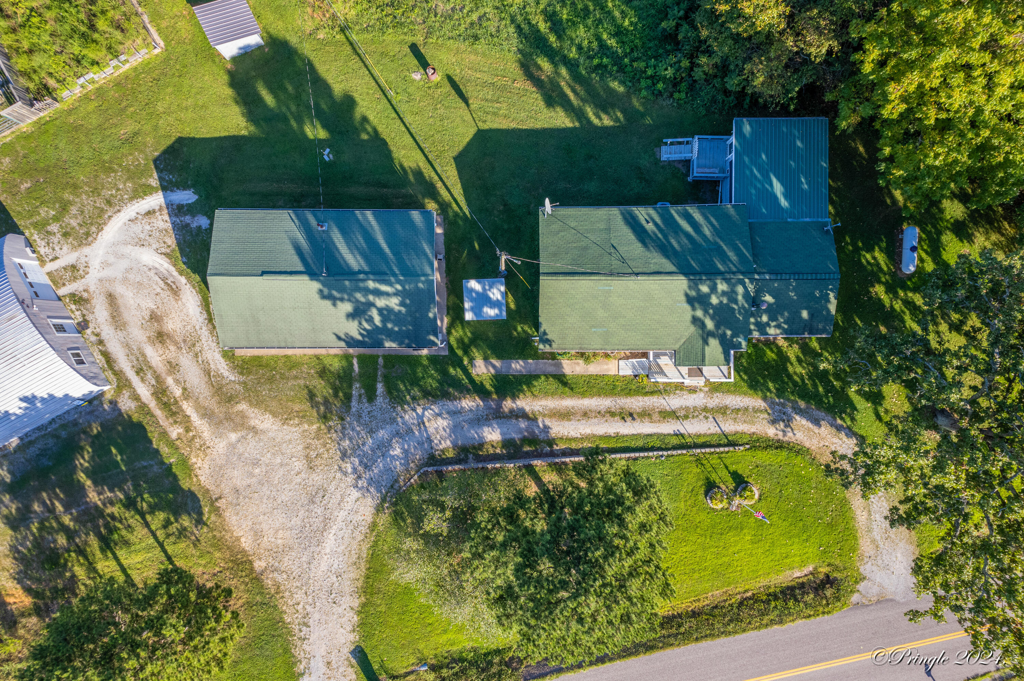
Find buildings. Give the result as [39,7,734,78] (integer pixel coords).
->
[189,0,265,61]
[0,233,113,449]
[207,207,455,350]
[532,117,841,367]
[463,278,506,321]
